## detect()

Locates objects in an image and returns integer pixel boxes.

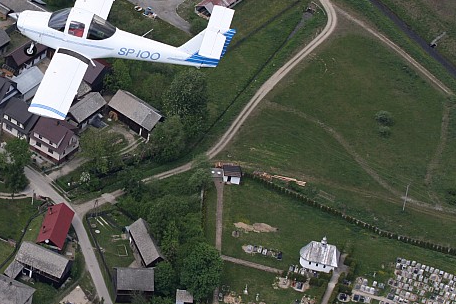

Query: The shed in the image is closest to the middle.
[222,166,240,184]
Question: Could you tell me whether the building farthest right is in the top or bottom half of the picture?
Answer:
bottom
